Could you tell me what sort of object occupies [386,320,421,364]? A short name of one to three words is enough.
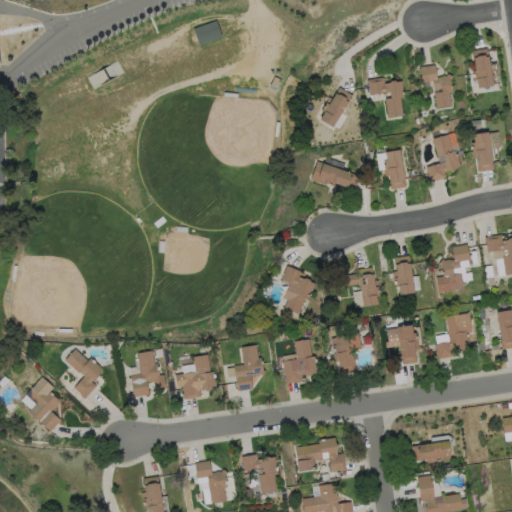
house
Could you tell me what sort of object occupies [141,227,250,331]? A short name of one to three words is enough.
baseball field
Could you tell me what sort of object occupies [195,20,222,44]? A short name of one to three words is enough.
building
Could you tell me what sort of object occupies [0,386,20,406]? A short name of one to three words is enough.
swimming pool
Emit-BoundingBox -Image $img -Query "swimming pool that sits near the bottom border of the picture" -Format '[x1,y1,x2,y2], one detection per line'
[444,475,466,487]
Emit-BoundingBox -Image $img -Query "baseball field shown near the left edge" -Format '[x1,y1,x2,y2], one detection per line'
[4,190,154,332]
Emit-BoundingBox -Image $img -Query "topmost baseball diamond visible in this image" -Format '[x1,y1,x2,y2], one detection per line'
[137,94,276,231]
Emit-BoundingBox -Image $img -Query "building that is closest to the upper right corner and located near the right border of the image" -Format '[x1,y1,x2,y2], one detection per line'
[474,48,494,88]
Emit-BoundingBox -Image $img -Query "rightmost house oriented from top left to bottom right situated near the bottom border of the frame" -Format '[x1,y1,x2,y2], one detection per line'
[410,474,468,512]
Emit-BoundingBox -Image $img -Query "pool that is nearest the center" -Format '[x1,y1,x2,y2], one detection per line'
[266,282,283,304]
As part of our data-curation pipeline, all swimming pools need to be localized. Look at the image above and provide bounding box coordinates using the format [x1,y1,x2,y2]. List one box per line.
[356,348,374,368]
[424,144,434,163]
[444,475,466,487]
[89,348,108,360]
[0,386,20,406]
[266,282,283,304]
